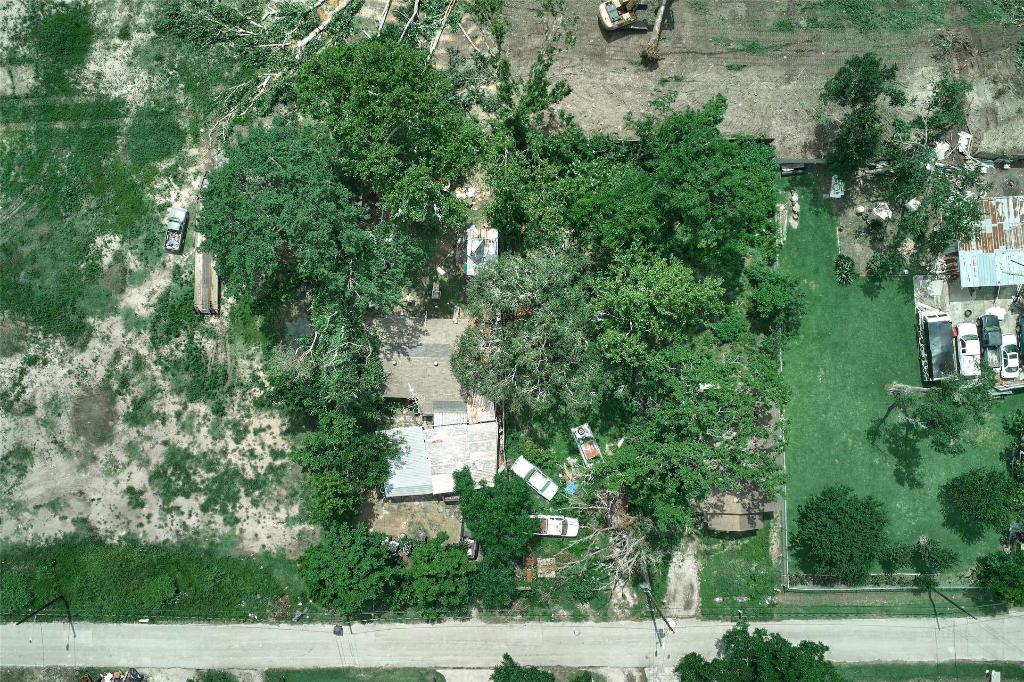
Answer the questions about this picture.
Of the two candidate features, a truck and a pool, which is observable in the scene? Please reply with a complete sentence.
I can see a truck in this picture.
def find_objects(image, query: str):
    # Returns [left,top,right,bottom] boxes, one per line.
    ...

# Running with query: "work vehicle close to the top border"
[600,0,641,37]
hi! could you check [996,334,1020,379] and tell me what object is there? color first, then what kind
white car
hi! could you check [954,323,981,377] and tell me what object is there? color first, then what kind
white truck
